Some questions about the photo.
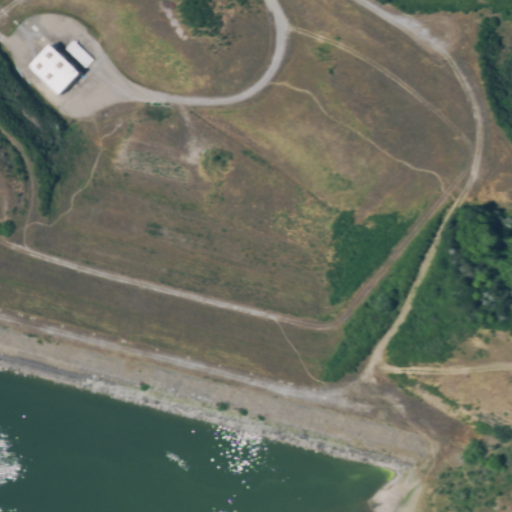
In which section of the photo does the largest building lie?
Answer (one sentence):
The largest building is located in the top left region of the scene.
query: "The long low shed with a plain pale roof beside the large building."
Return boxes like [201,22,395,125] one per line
[66,40,94,68]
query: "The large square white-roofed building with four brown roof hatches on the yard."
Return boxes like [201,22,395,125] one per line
[28,44,80,95]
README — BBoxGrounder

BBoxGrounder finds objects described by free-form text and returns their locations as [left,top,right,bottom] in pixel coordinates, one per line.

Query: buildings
[28,44,80,95]
[66,40,94,68]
